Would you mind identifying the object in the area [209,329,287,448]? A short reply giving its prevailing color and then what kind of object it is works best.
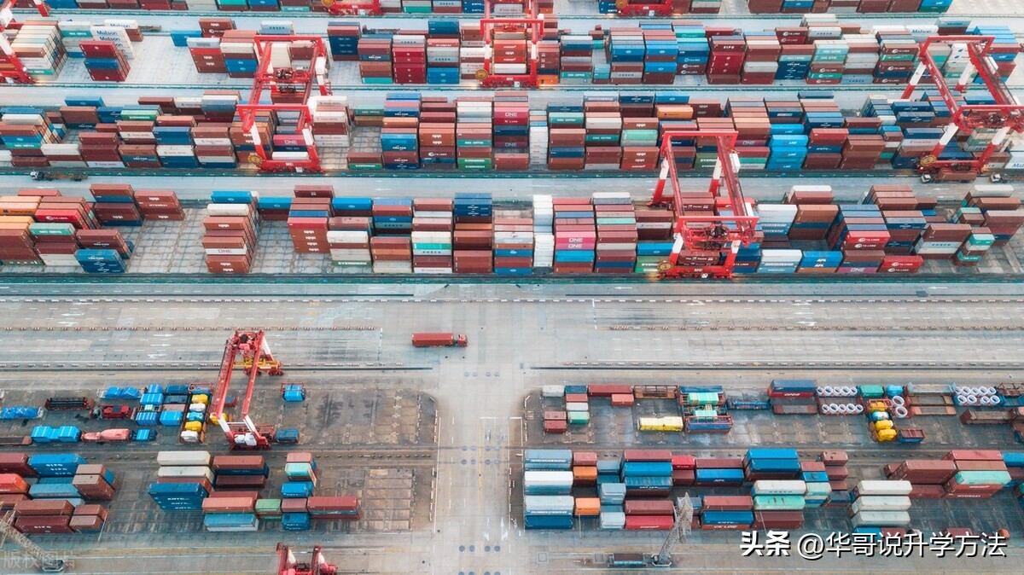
red container crane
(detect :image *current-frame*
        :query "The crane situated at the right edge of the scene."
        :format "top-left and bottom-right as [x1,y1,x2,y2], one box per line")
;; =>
[894,40,1024,172]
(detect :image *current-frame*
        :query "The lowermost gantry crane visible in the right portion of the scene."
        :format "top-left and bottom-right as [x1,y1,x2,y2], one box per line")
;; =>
[646,134,759,280]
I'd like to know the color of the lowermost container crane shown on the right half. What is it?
red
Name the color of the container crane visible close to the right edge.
red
